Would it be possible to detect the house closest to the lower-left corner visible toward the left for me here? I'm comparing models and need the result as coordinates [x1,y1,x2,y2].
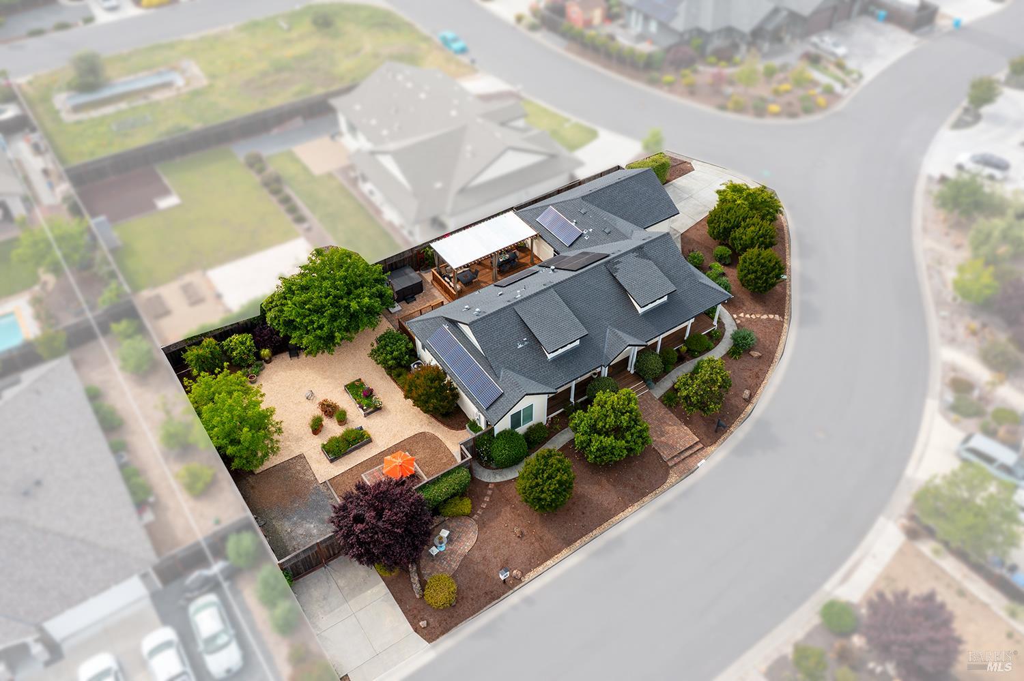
[0,358,162,677]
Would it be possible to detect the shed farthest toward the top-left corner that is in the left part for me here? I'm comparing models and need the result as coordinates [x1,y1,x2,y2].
[88,219,127,263]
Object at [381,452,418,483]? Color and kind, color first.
orange umbrella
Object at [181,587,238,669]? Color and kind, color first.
white car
